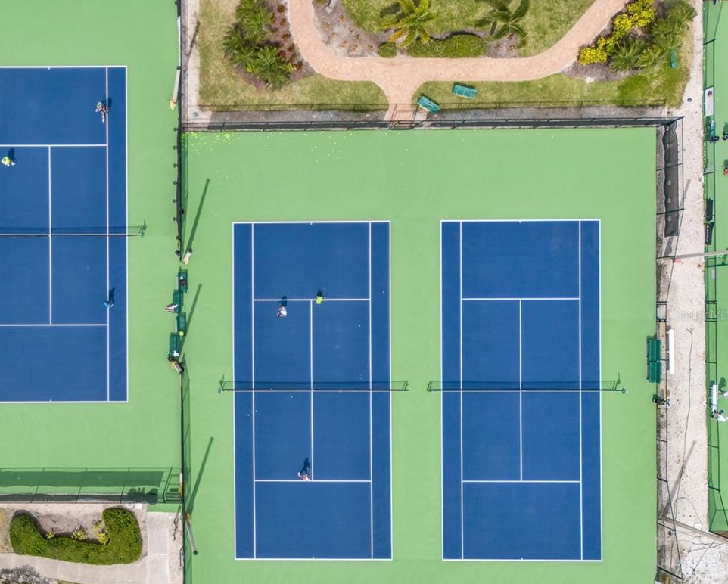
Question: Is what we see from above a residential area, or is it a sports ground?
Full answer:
It's a sports ground.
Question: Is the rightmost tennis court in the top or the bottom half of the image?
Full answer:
The rightmost tennis court sits in the bottom half of the picture.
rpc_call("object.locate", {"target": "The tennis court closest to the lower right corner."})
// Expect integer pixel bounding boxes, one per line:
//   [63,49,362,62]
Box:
[441,220,603,560]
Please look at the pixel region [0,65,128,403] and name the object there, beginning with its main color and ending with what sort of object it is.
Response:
blue tennis court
